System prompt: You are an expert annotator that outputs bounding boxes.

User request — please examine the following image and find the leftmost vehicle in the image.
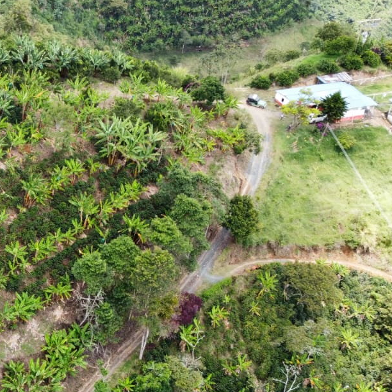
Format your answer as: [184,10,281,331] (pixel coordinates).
[247,92,267,106]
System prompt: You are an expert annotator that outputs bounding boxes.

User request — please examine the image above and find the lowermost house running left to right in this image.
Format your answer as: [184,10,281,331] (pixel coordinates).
[275,80,378,123]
